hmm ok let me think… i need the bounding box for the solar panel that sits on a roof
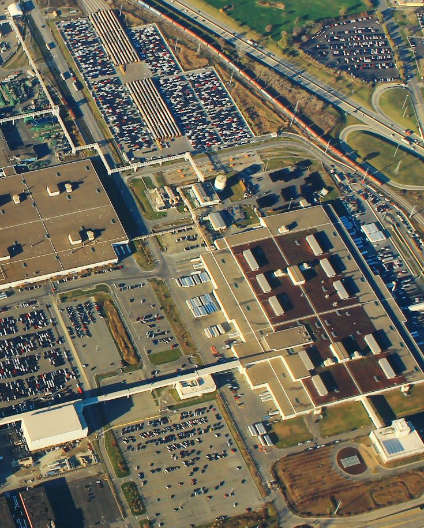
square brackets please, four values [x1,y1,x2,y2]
[383,437,405,453]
